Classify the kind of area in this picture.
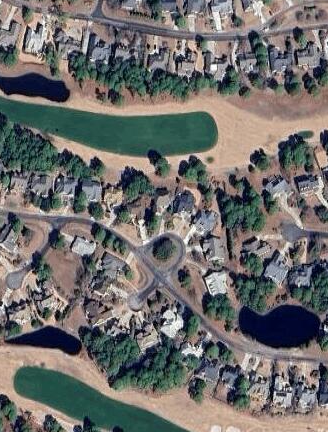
residential area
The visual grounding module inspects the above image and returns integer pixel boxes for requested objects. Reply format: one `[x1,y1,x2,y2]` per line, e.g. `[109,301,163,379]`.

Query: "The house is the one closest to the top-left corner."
[0,18,21,48]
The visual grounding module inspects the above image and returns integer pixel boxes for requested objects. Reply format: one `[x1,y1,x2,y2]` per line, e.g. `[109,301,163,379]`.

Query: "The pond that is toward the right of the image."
[239,304,320,348]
